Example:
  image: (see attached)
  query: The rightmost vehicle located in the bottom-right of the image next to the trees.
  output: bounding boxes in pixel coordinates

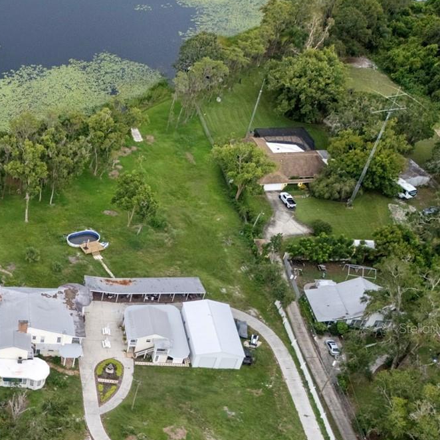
[324,337,343,357]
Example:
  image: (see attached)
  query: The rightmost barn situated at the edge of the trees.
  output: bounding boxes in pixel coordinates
[395,163,432,187]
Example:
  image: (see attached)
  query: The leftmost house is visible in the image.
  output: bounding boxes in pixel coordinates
[0,283,93,391]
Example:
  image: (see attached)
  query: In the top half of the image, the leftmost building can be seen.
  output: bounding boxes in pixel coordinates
[251,116,329,193]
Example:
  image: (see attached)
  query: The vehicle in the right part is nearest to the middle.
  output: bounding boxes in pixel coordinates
[279,191,299,207]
